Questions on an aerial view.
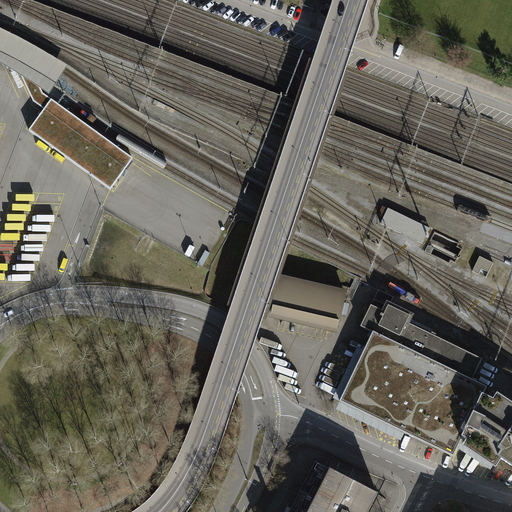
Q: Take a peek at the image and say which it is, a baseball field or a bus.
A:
bus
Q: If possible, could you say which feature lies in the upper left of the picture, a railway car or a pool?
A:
railway car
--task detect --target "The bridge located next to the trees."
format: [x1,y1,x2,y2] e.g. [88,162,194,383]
[136,0,368,512]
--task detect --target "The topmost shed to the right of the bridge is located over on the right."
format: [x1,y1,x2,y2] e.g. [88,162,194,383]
[380,206,426,244]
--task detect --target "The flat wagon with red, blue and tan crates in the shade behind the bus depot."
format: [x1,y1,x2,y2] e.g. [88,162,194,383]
[64,98,103,127]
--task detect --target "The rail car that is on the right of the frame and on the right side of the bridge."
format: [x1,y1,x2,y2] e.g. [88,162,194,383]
[458,204,491,224]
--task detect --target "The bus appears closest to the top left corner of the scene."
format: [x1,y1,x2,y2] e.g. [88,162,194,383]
[34,141,63,164]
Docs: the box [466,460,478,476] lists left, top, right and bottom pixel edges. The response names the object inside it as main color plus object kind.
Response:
white vehicle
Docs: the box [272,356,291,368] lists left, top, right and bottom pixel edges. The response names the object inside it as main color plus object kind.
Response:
white vehicle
